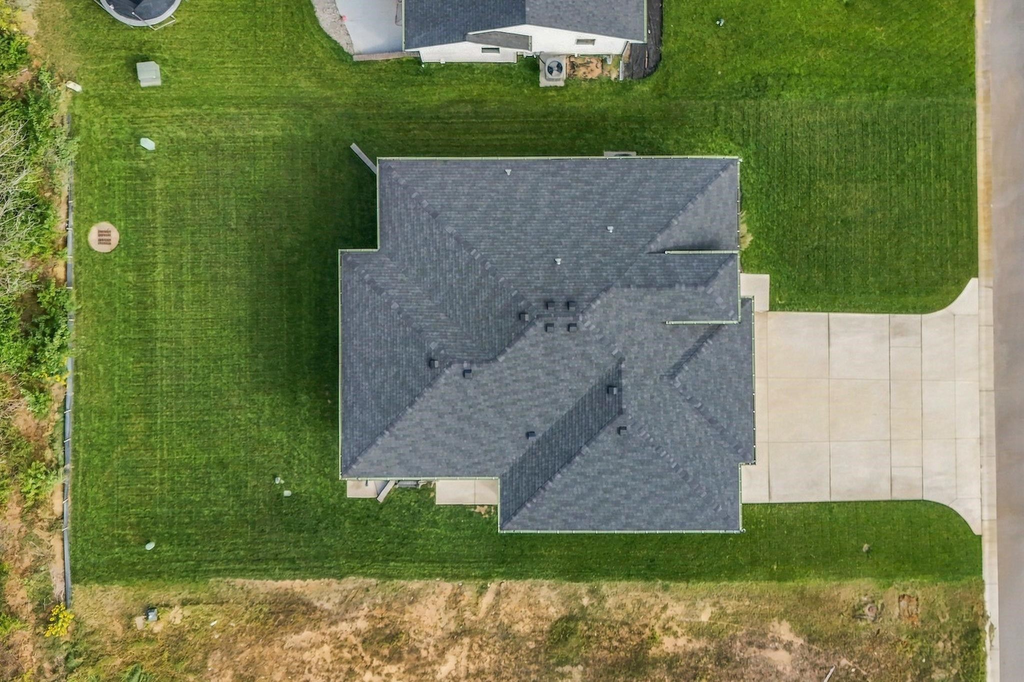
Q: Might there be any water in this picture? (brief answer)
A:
No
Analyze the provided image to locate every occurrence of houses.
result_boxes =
[402,0,647,64]
[339,157,755,533]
